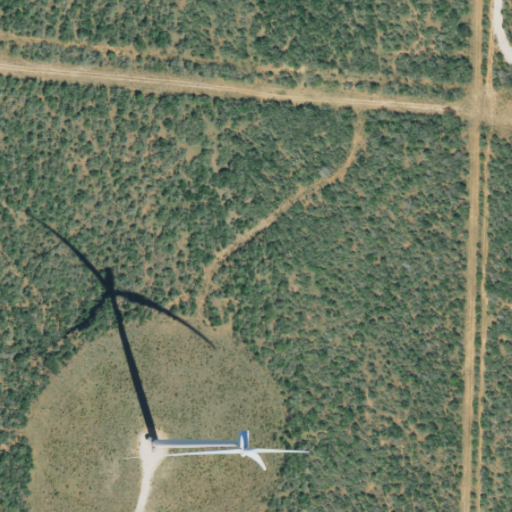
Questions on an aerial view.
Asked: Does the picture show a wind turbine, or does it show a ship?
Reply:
wind turbine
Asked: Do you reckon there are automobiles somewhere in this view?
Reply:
No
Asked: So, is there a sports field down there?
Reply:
No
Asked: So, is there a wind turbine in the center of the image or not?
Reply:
No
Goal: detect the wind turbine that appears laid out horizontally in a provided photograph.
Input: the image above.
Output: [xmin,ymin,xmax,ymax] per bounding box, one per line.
[122,431,309,474]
